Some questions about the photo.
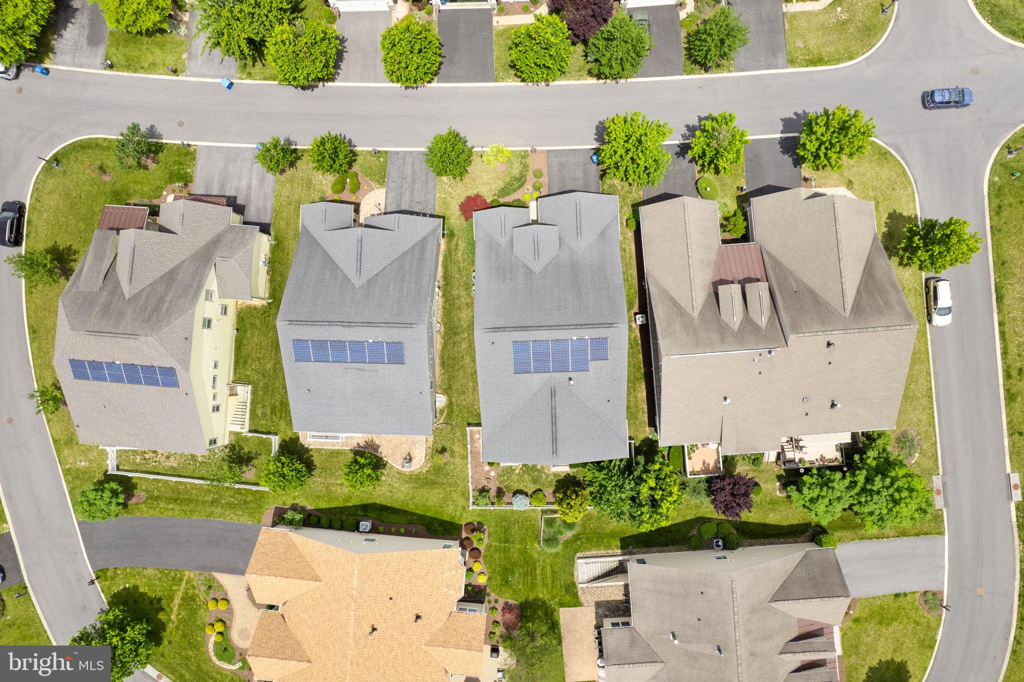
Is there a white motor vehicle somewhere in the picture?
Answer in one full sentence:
Yes, a white motor vehicle appears in the view.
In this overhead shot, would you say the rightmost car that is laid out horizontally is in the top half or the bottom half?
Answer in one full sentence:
Seen from above, the rightmost car that is laid out horizontally lies in the top half of the view.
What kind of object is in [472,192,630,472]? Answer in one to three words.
house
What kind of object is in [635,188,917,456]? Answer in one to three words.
house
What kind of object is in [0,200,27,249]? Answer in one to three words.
car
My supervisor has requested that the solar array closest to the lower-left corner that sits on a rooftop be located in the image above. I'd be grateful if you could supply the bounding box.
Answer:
[68,358,179,389]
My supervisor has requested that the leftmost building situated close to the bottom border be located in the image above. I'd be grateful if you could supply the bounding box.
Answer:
[245,519,493,682]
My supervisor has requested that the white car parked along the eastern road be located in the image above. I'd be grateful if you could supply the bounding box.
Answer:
[927,278,954,326]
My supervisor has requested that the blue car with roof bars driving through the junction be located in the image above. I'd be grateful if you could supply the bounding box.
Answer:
[921,85,970,111]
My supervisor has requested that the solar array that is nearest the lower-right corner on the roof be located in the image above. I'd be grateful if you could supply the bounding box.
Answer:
[512,338,609,375]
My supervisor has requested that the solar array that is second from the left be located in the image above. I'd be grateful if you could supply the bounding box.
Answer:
[291,339,405,364]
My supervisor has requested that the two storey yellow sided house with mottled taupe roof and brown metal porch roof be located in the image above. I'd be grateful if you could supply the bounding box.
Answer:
[53,195,277,455]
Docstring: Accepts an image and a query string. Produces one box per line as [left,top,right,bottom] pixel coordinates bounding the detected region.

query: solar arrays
[291,339,405,364]
[512,338,609,375]
[68,358,179,389]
